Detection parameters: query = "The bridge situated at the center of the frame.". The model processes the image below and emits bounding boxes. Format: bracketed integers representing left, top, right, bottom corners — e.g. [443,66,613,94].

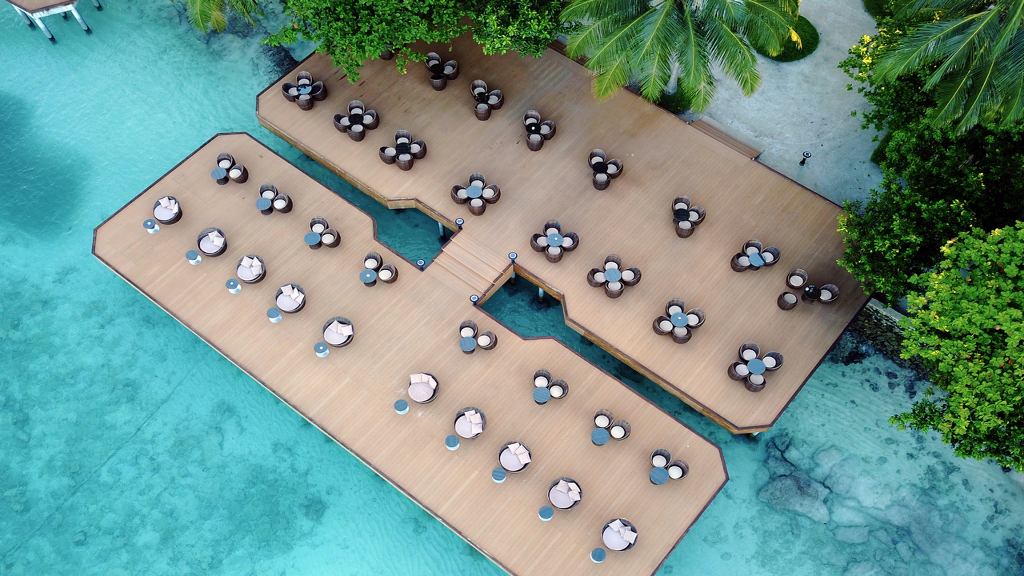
[421,228,512,307]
